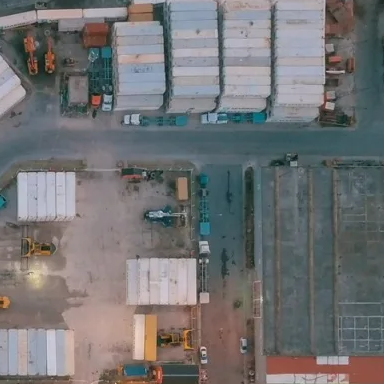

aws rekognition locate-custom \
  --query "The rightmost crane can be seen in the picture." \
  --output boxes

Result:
[43,28,55,79]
